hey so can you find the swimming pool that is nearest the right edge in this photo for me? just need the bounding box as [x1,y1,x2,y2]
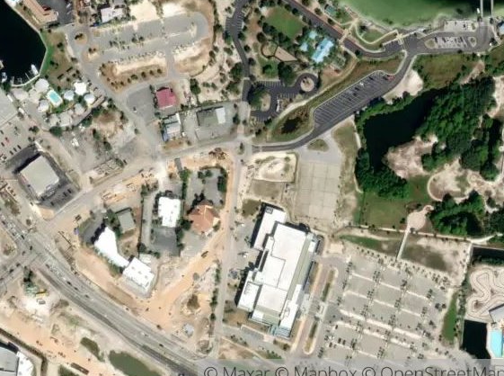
[489,330,503,358]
